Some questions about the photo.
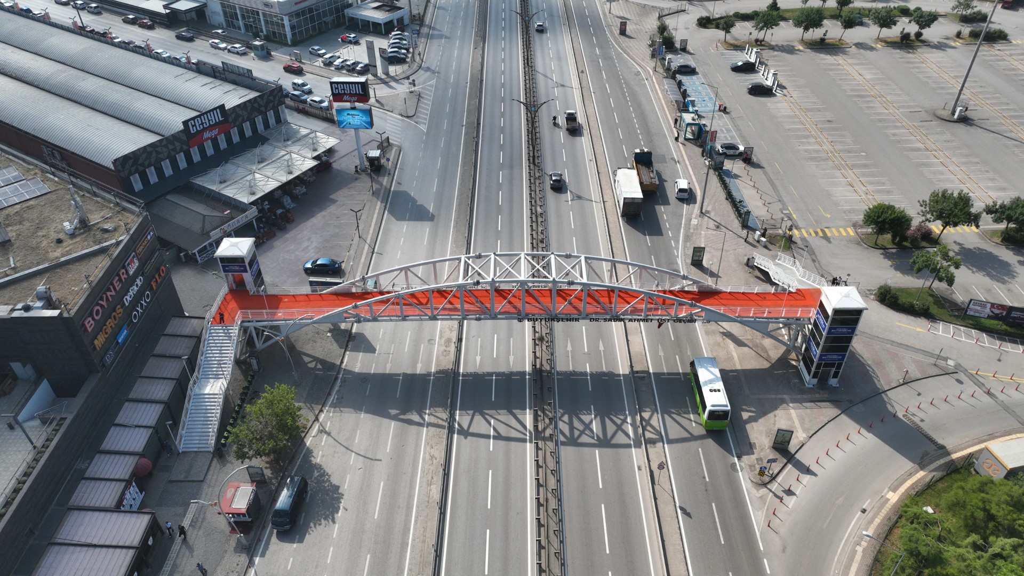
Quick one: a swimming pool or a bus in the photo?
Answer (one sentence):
Looking from above, you can make out a bus.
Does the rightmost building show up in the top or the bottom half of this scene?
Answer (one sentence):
Seen from above, the rightmost building lies in the bottom half of the view.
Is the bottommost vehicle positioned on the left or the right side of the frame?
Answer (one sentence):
The bottommost vehicle sits on the left side.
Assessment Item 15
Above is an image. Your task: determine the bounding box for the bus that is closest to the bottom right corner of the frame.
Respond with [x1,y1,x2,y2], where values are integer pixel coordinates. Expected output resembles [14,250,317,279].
[684,348,735,431]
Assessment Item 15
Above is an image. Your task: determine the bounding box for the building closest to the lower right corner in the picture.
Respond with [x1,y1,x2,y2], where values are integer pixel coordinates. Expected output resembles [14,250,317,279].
[975,437,1024,487]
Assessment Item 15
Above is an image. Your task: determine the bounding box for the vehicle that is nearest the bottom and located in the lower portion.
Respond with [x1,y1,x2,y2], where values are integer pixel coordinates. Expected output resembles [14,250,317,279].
[264,465,313,532]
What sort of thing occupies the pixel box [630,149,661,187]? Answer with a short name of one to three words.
truck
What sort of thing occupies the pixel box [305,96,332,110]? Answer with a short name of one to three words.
car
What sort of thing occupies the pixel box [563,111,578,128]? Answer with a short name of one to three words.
vehicle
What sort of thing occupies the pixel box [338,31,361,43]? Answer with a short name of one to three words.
vehicle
